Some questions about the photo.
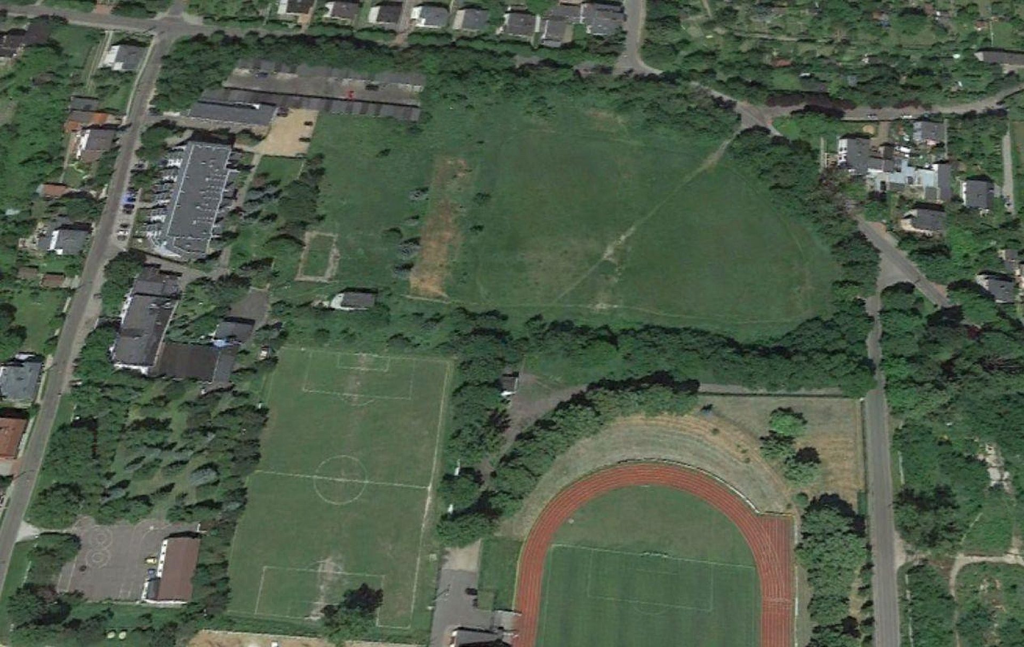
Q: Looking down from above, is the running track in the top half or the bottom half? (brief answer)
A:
bottom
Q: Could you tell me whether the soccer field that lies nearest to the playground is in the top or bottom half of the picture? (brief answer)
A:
bottom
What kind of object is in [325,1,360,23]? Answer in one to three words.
house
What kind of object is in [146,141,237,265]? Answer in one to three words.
building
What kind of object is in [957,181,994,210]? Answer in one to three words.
house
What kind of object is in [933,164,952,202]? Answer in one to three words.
shed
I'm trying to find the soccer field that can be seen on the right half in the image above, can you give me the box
[539,488,763,647]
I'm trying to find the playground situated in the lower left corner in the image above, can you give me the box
[55,515,202,600]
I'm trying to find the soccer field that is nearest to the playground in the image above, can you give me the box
[216,344,455,633]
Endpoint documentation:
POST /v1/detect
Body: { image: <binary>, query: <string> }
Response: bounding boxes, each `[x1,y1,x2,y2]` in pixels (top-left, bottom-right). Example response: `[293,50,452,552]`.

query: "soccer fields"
[216,344,455,633]
[539,488,763,647]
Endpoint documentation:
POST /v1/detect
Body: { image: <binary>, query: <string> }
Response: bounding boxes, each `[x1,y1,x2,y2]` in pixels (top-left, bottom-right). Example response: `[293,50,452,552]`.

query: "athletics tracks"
[508,461,797,647]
